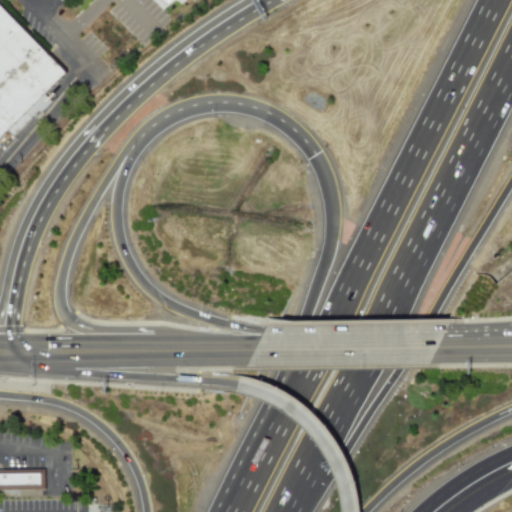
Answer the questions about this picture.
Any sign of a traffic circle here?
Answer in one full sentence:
No, there's no traffic circle here.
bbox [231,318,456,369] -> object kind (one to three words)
overpass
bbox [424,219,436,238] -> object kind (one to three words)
vehicle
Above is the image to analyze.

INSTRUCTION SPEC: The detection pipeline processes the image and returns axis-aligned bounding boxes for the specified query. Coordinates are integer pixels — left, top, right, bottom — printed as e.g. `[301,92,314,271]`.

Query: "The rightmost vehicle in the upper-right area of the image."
[499,102,511,119]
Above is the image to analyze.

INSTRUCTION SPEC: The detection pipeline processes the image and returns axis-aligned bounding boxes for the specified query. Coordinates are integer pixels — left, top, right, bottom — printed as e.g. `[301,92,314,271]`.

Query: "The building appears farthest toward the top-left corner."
[0,5,66,137]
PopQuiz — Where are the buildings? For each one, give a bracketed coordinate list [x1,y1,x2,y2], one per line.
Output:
[0,5,66,137]
[154,0,182,12]
[0,468,48,488]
